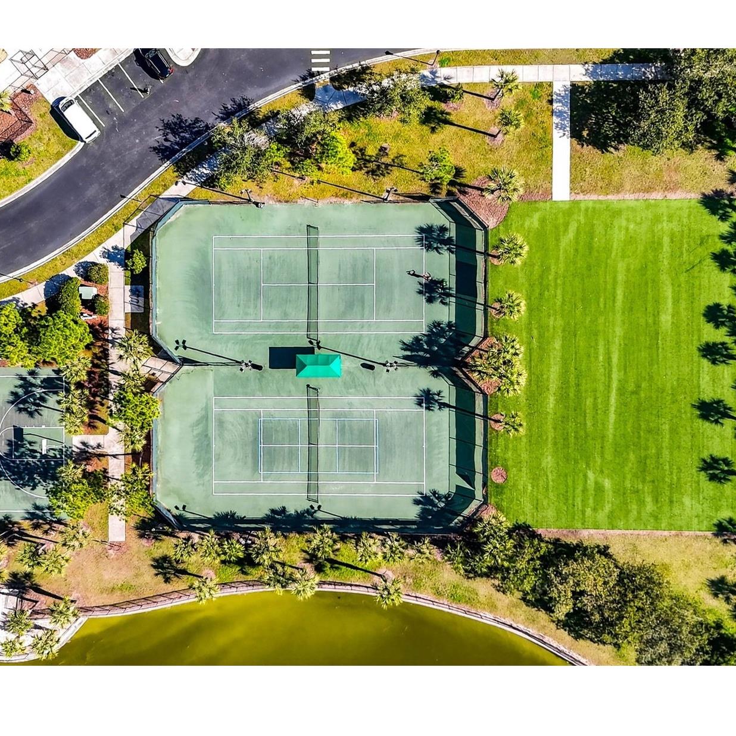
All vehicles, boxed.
[63,100,101,146]
[140,40,175,84]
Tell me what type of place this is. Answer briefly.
sports ground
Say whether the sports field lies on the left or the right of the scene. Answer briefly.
right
